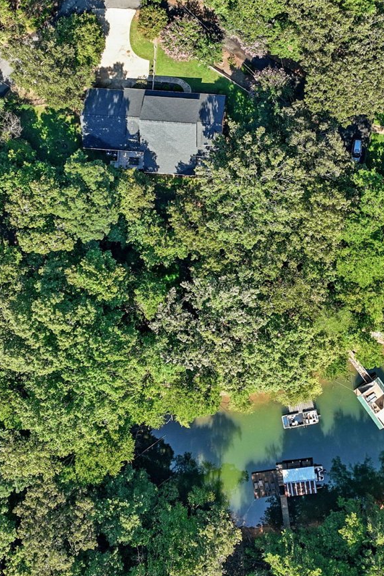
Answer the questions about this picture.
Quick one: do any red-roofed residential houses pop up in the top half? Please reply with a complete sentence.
No, looking in the top half, there is no red-roofed residential house.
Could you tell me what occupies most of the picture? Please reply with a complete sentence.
What you mostly see from above here is trees.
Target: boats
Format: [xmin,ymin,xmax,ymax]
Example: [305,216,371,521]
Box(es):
[314,469,329,480]
[283,410,320,428]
